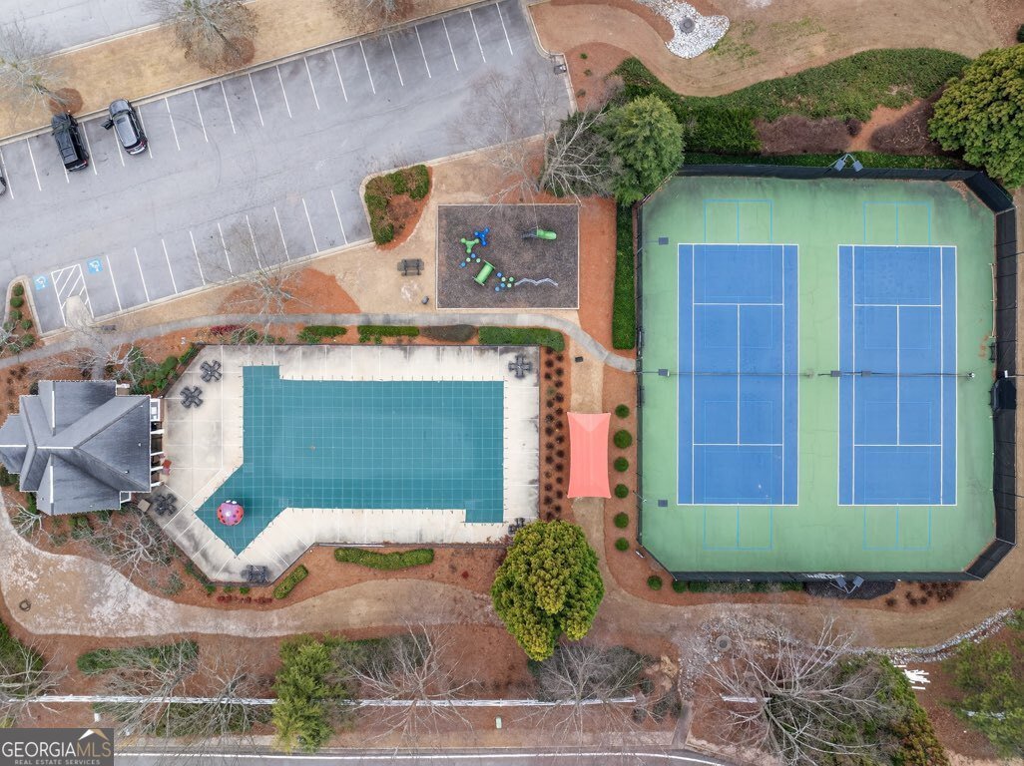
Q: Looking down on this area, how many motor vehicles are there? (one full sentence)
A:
The number of motor vehicles here is 2.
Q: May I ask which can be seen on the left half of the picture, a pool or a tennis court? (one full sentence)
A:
What appears on the left half of the picture is a pool.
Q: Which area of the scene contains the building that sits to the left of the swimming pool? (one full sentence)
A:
Look in the left portion of the view to spot the building that sits to the left of the swimming pool.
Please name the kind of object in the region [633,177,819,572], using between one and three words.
tennis court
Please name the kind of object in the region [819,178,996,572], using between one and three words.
tennis court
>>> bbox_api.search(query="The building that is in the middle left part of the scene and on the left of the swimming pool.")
[0,379,170,517]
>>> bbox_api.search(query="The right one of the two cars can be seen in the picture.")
[103,98,145,154]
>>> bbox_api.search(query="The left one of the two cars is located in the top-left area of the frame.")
[48,108,87,168]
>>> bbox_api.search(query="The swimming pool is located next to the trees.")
[194,361,508,555]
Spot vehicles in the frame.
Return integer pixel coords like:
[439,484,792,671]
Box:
[103,98,145,154]
[48,108,87,168]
